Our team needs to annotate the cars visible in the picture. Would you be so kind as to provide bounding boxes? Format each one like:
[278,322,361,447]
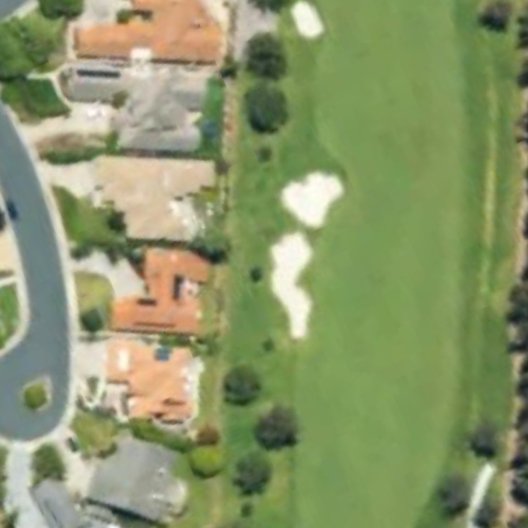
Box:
[4,197,21,221]
[64,435,82,456]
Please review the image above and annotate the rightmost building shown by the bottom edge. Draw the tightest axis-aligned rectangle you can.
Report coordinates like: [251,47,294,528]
[87,434,186,517]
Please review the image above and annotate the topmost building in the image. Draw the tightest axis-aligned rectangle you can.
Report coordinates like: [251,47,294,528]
[75,0,231,68]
